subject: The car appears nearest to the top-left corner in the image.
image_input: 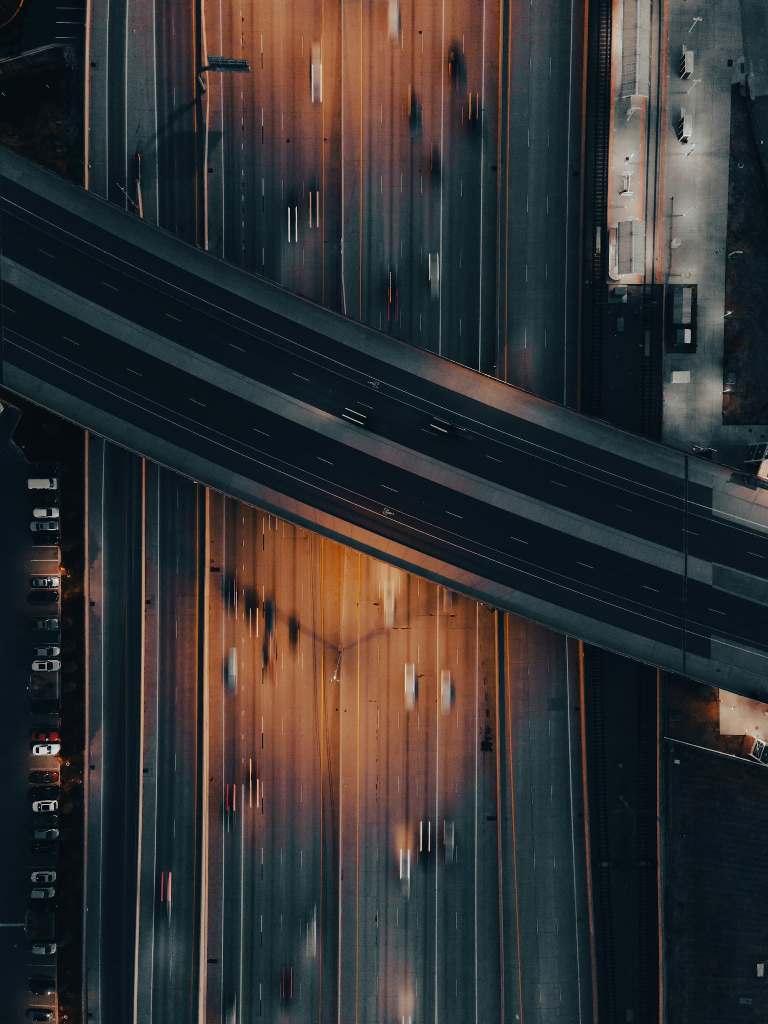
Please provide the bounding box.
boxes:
[310,72,323,100]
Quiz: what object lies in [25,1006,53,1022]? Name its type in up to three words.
car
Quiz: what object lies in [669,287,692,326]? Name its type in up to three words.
house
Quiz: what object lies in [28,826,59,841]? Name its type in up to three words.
vehicle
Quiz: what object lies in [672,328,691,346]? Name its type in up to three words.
house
